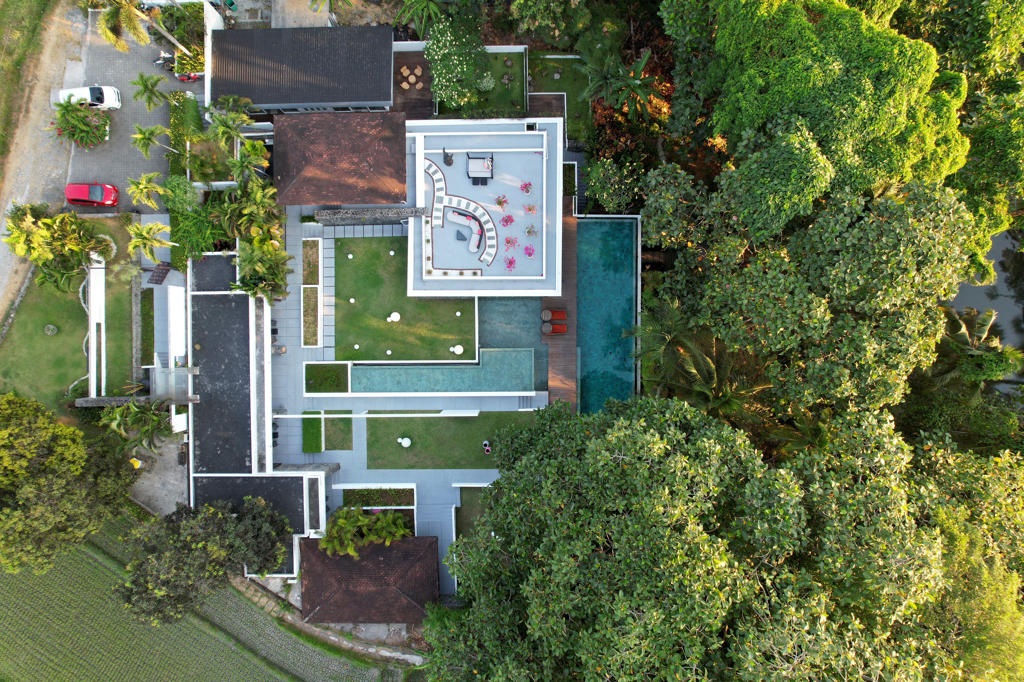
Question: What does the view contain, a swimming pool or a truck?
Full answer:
Visible in the photo is a swimming pool.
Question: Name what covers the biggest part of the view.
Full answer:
What you mostly see from above here is trees.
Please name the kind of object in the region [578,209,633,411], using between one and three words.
swimming pool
